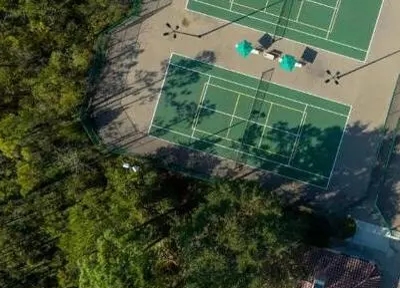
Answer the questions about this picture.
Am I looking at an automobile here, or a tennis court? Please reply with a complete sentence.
There is a tennis court in the scene.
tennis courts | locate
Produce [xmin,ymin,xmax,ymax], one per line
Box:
[149,54,350,188]
[186,0,382,61]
